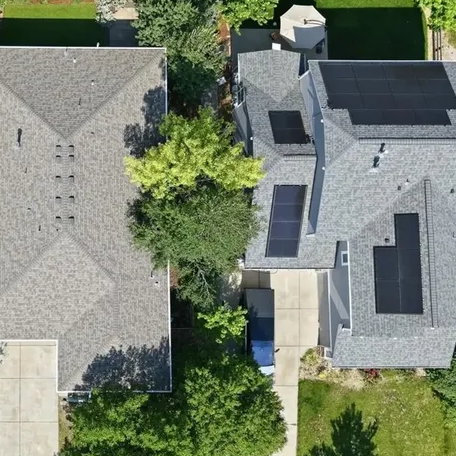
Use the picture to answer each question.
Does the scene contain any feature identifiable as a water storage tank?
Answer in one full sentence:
No, this view has no water storage tank in it.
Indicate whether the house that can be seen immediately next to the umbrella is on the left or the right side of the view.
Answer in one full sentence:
The house that can be seen immediately next to the umbrella appears in the right half of the scene.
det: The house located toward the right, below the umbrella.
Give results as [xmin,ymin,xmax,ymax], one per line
[234,39,456,370]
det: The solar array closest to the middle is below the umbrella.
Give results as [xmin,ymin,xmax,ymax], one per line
[267,186,308,257]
